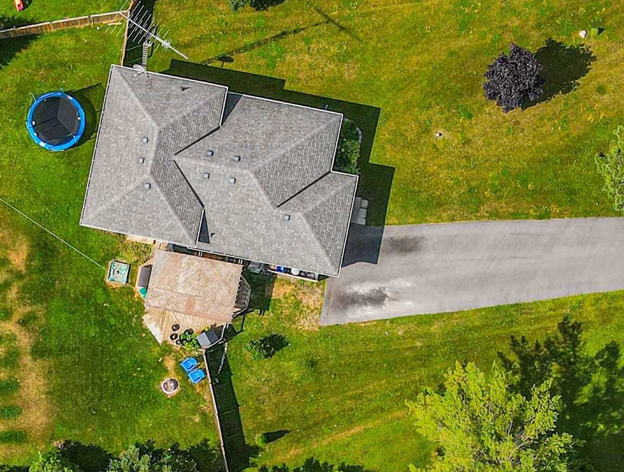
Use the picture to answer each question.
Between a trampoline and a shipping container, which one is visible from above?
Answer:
trampoline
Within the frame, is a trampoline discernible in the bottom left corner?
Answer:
No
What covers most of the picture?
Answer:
grass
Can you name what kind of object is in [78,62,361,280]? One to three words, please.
house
